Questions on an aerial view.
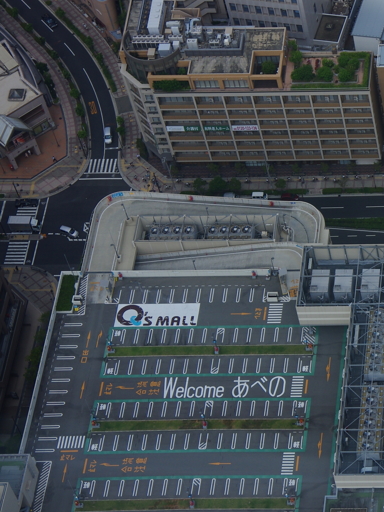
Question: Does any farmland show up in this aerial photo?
No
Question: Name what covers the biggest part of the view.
buildings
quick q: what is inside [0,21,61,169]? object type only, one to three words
building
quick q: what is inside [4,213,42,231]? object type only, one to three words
vehicle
